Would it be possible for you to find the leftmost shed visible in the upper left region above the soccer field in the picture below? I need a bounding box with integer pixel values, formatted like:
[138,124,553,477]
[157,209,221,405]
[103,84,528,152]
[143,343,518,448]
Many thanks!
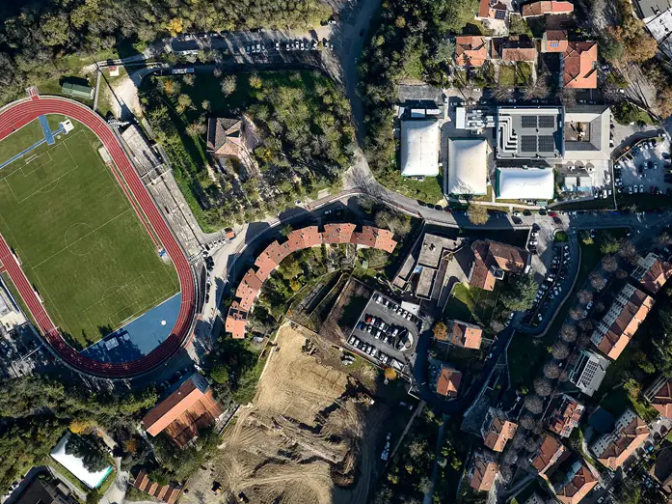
[61,82,96,99]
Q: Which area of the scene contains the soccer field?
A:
left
